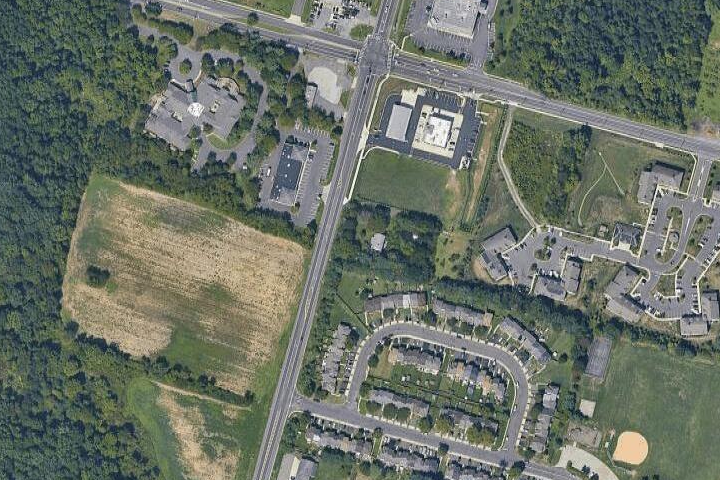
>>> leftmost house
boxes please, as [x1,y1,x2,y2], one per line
[143,73,249,152]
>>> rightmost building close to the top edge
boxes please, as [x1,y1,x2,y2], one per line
[430,0,487,36]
